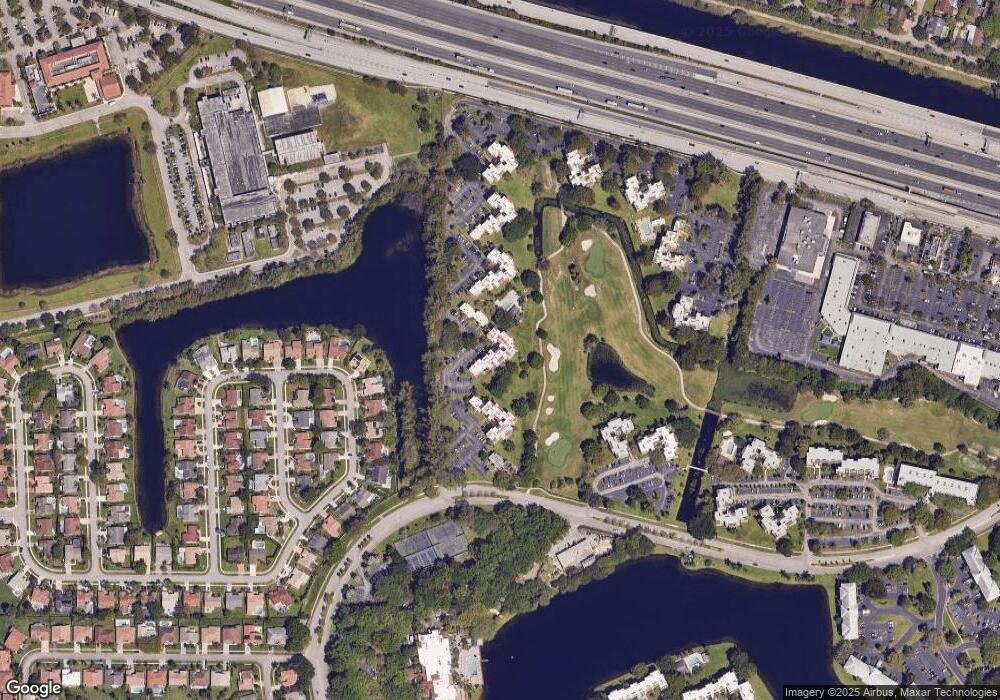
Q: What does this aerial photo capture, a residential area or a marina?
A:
residential area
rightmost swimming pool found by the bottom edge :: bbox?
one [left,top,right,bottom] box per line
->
[680,652,707,675]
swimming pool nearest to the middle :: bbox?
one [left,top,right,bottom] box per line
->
[495,290,522,321]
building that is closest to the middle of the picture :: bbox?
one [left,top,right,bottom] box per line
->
[470,328,518,377]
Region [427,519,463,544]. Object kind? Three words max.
tennis court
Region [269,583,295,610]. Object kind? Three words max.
house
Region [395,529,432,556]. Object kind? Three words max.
tennis court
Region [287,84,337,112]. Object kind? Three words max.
building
